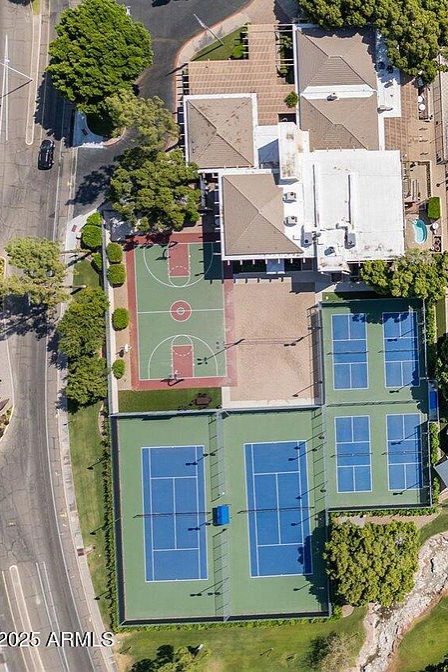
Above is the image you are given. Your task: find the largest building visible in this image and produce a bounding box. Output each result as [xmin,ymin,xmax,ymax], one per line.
[179,23,406,276]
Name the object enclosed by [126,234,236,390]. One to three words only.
basketball court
